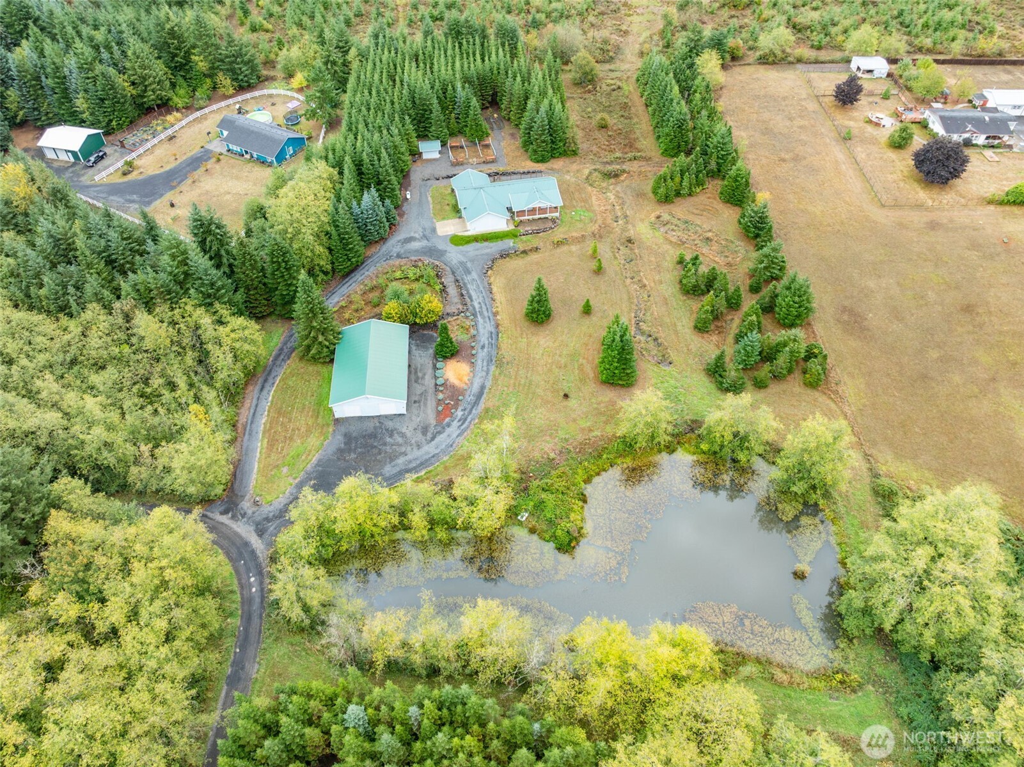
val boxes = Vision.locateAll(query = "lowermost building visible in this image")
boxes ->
[329,318,410,418]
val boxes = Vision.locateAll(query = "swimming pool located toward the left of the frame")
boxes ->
[245,108,273,122]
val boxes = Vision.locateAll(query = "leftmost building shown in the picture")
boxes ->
[37,125,107,163]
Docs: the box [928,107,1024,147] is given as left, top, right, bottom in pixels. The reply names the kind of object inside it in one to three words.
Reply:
house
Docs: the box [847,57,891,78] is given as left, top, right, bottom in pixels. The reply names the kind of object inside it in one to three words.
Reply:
shed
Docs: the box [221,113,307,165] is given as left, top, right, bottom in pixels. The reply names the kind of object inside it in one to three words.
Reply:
house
